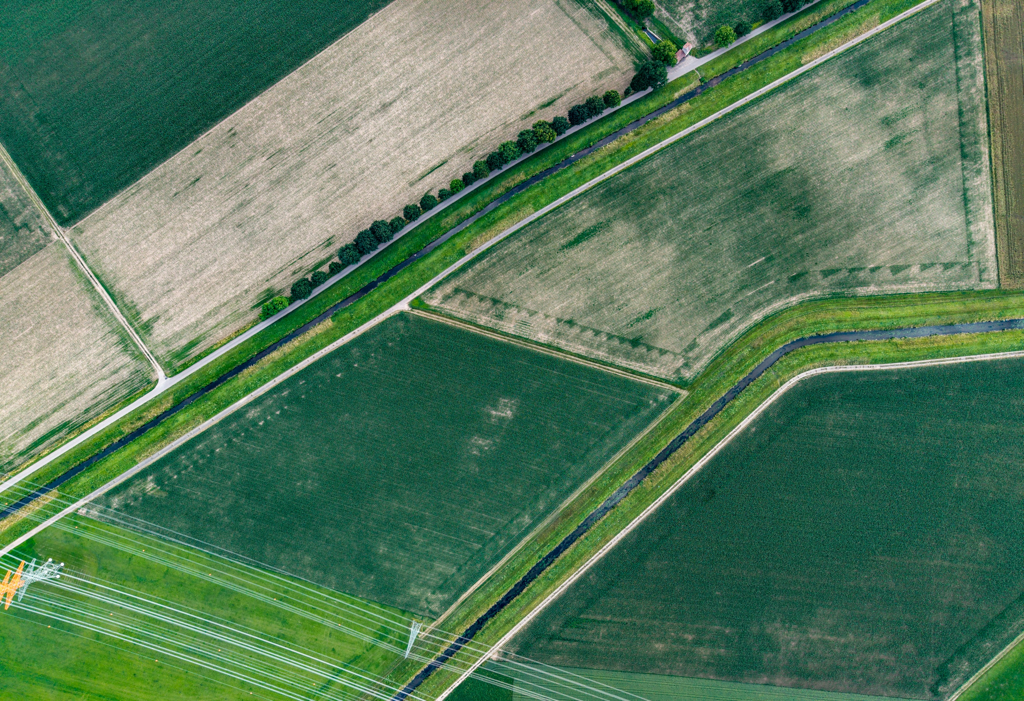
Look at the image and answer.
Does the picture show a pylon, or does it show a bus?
pylon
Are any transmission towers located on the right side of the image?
No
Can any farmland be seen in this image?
Yes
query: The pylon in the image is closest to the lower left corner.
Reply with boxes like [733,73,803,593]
[0,559,64,614]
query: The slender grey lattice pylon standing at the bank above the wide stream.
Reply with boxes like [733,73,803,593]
[401,618,424,663]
